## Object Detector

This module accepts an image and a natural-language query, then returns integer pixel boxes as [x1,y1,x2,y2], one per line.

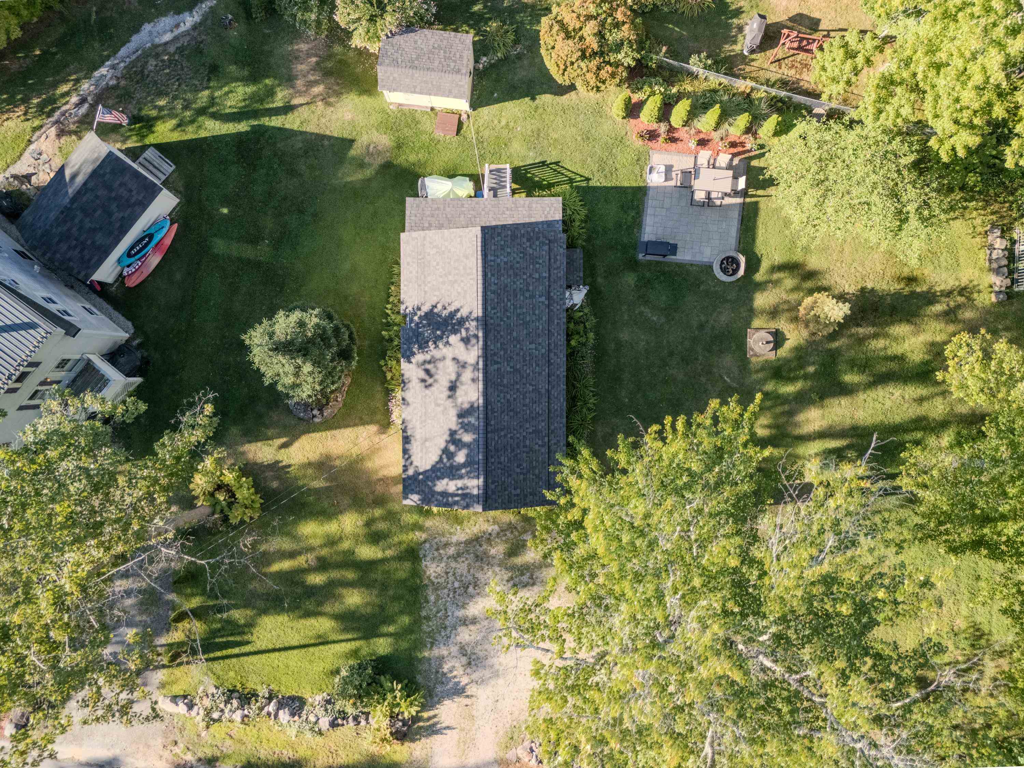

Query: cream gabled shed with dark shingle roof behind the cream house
[13,128,179,283]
